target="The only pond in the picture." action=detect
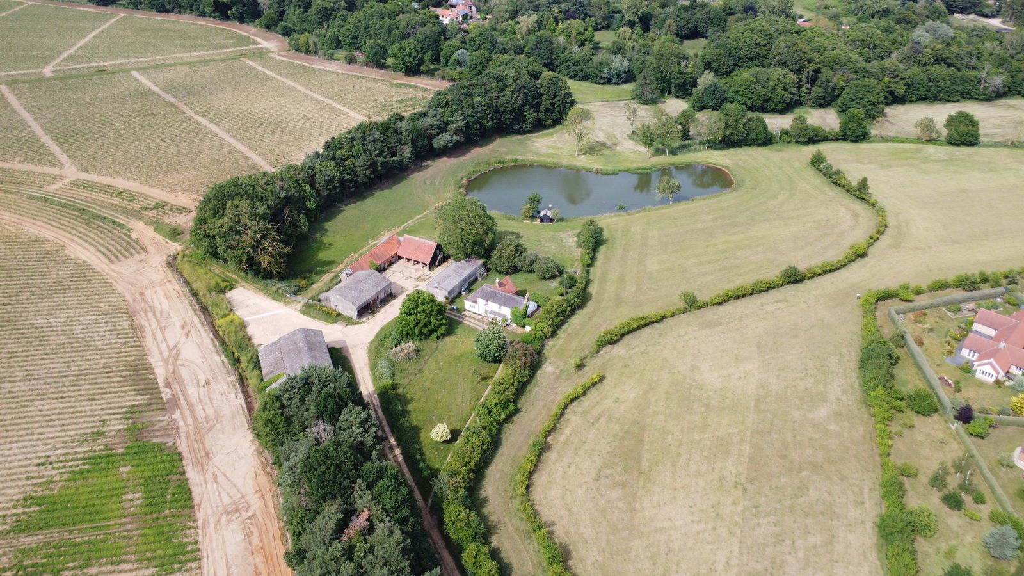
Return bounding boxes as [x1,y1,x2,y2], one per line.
[466,164,733,218]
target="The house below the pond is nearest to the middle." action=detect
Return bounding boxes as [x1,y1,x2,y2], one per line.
[464,275,537,328]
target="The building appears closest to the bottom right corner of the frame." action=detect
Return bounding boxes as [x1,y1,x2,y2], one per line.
[959,308,1024,385]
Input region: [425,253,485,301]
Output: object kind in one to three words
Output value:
shed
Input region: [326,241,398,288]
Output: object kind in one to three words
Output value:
shed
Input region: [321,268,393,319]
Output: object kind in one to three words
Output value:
barn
